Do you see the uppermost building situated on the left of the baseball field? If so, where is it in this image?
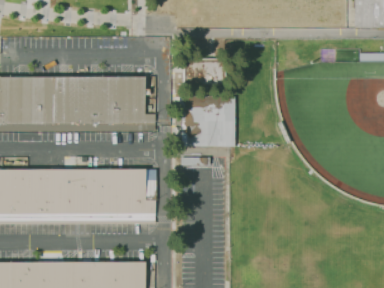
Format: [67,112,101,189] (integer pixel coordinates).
[186,54,222,85]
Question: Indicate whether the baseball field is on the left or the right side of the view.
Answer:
right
